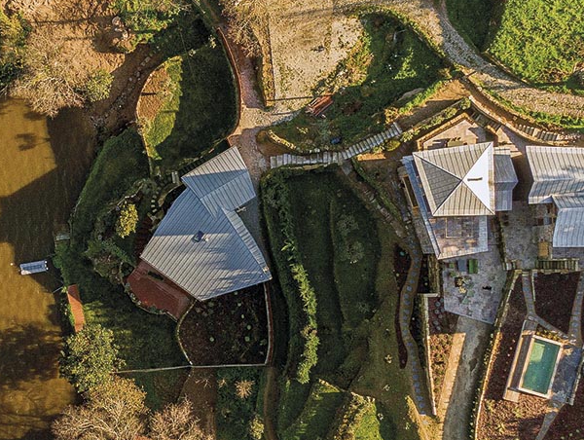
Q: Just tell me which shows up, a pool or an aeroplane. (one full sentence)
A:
There is a pool in the scene.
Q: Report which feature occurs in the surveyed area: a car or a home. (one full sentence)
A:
I can see a home in this picture.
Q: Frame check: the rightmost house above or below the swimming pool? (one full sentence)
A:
The position of the rightmost house is above the swimming pool.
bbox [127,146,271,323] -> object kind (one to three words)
house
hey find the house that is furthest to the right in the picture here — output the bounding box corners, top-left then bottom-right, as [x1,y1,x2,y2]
[516,146,584,247]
